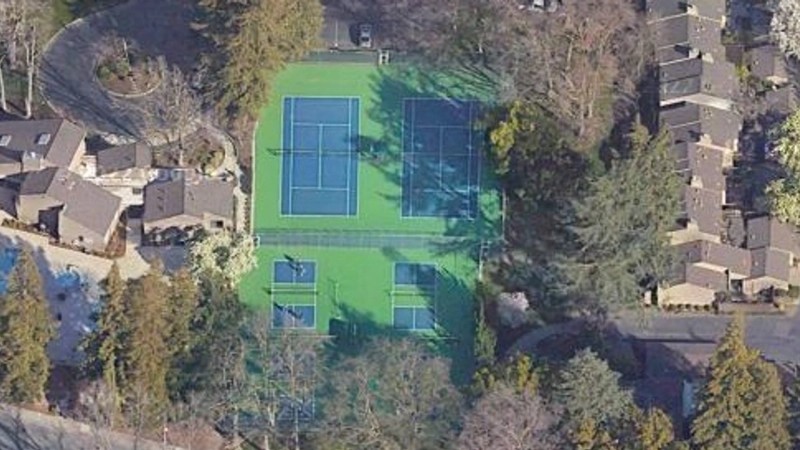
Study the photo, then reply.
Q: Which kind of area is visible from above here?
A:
residential area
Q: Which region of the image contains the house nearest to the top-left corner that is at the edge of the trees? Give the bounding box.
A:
[0,119,88,183]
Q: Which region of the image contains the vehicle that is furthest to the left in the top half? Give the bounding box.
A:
[358,27,373,51]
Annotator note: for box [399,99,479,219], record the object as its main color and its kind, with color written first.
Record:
blue tennis court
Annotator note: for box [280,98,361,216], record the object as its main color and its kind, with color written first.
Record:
blue tennis court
